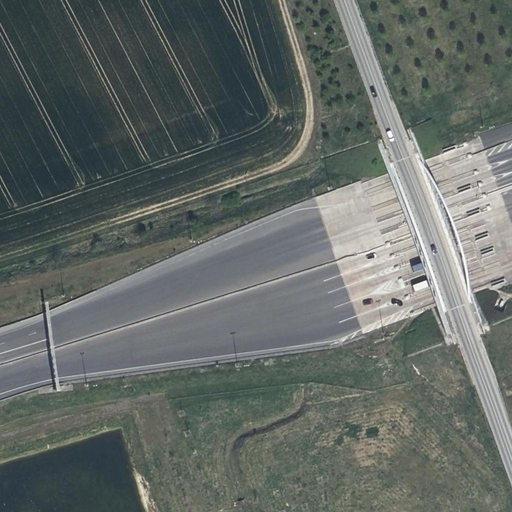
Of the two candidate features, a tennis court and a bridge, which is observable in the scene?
bridge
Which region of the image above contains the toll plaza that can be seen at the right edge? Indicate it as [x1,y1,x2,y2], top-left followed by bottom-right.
[316,134,512,337]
